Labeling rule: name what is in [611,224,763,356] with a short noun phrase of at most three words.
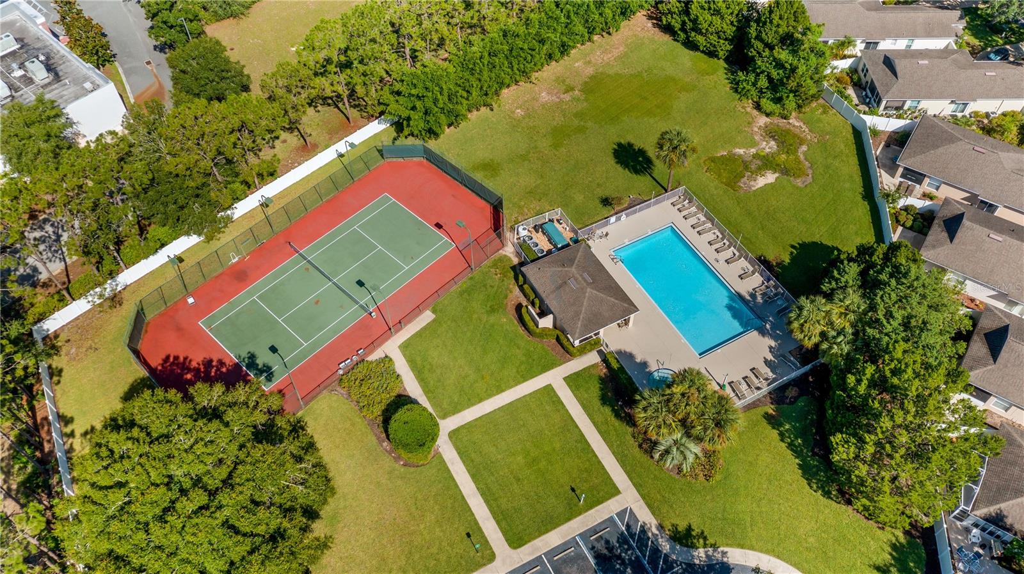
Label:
swimming pool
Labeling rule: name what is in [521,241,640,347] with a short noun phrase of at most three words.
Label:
building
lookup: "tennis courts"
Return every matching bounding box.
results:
[133,158,507,443]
